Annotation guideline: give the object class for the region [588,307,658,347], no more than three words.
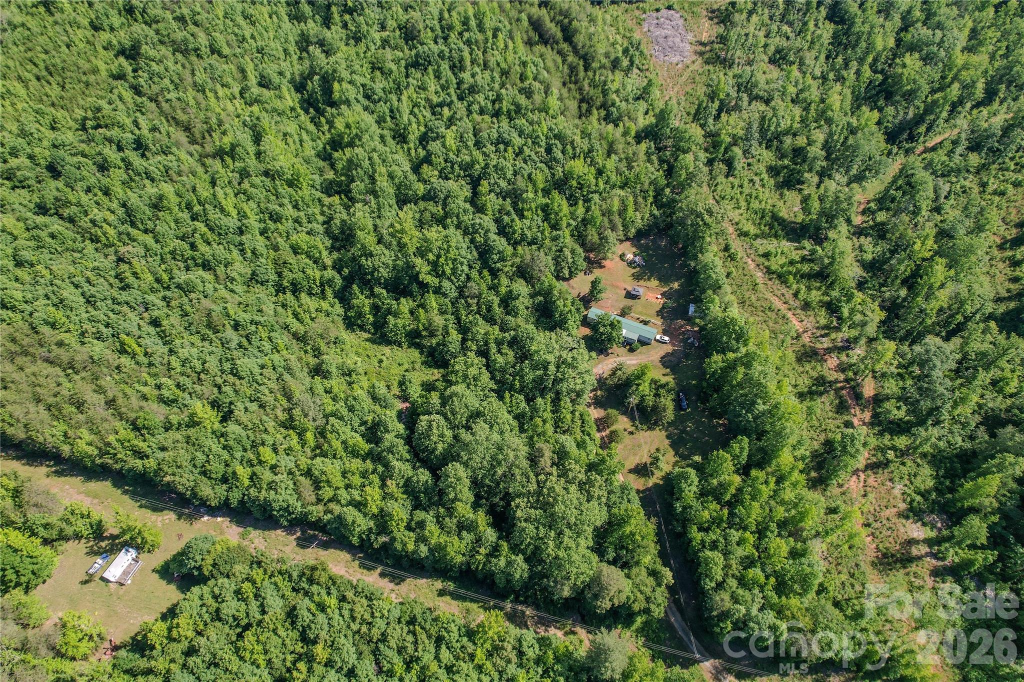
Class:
house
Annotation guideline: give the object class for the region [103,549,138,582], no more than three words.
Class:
camper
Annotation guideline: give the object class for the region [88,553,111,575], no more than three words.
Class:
truck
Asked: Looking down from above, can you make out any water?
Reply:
No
